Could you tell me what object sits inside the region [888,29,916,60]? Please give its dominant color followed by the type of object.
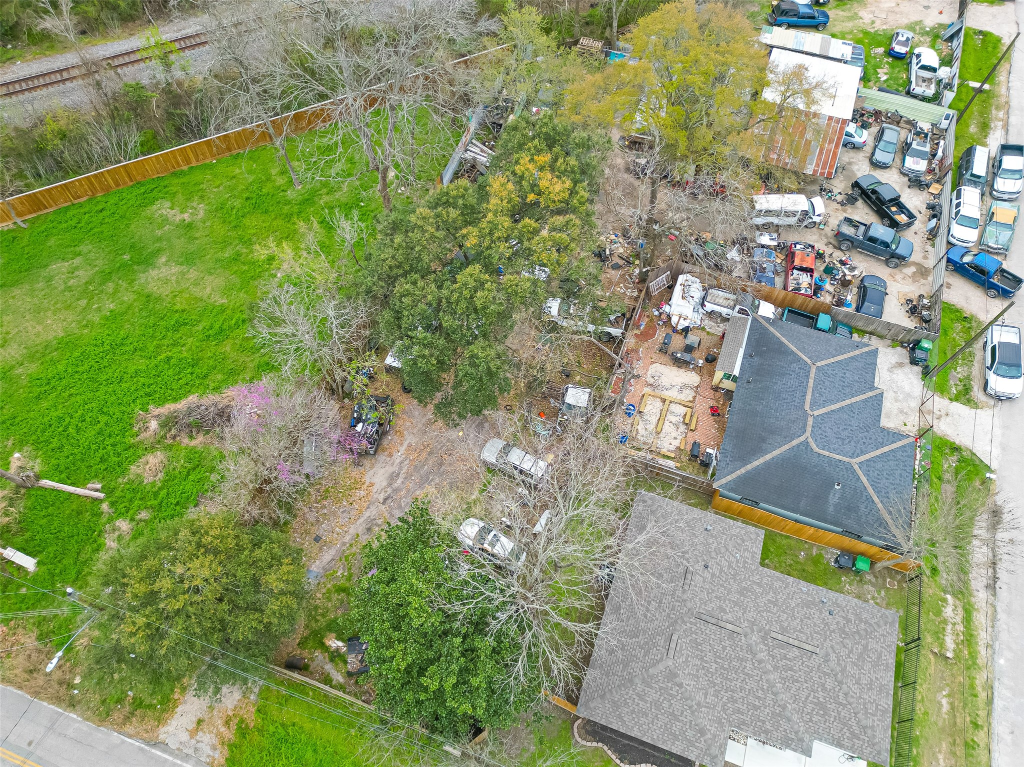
white car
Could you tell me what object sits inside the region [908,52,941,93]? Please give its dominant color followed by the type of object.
white truck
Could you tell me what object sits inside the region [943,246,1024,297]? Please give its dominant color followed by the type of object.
blue truck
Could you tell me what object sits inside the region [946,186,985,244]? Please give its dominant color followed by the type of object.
white car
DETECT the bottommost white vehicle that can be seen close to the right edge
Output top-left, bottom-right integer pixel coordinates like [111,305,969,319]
[983,323,1024,398]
